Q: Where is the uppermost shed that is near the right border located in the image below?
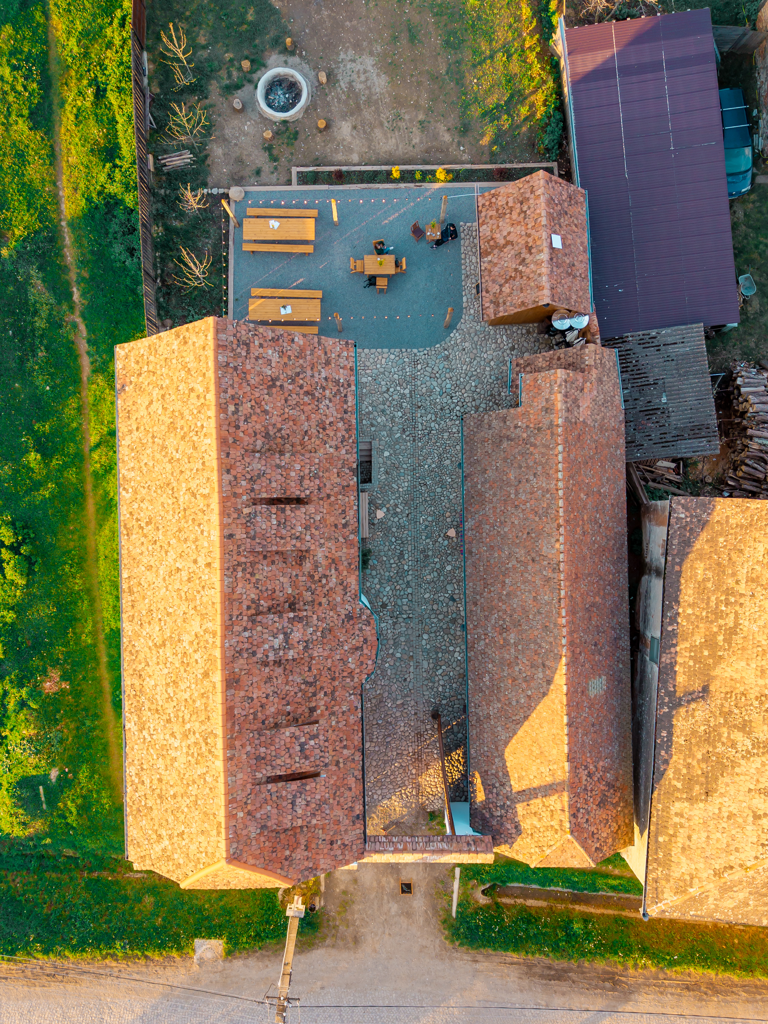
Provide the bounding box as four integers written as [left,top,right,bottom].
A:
[552,5,740,343]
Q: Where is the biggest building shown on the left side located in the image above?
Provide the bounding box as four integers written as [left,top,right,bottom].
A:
[114,316,382,894]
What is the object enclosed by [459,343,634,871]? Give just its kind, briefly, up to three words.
house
